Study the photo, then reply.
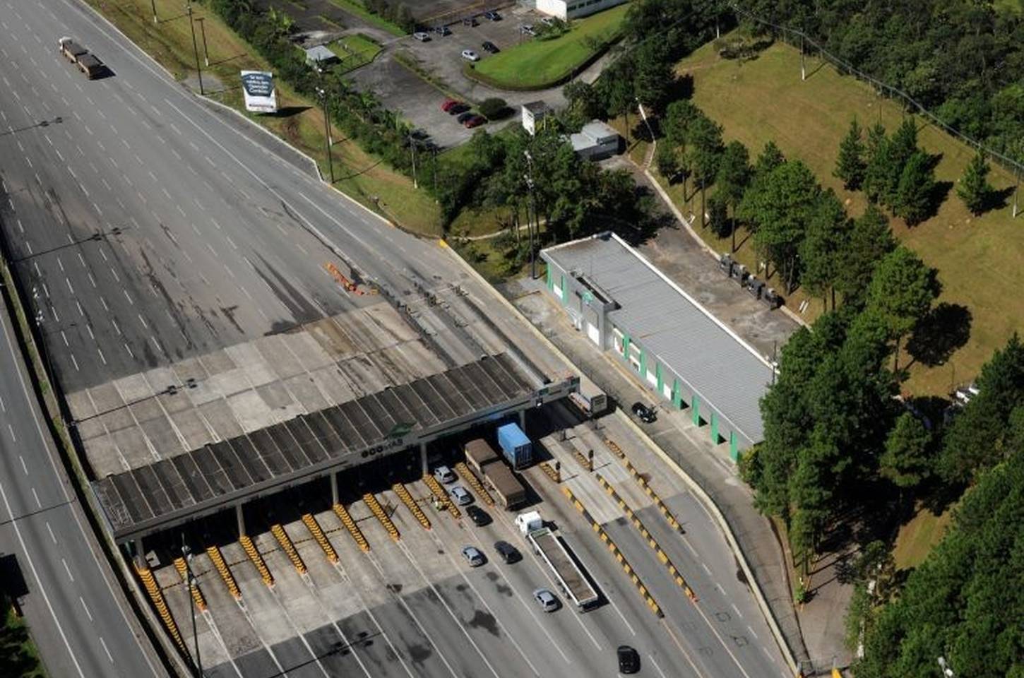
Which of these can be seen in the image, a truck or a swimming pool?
truck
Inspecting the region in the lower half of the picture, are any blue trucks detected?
Yes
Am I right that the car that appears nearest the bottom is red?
No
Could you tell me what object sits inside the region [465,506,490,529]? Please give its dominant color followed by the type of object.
black car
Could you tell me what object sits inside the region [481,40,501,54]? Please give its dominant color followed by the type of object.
black car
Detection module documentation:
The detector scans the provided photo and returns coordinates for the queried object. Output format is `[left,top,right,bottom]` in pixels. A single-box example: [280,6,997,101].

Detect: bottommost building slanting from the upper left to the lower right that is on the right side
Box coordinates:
[545,226,824,476]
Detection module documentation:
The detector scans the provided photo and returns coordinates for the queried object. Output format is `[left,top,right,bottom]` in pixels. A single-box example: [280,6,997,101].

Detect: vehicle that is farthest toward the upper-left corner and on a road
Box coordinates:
[49,40,104,84]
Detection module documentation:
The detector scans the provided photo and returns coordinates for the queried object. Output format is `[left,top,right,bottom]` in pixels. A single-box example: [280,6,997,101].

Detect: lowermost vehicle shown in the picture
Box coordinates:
[617,646,638,675]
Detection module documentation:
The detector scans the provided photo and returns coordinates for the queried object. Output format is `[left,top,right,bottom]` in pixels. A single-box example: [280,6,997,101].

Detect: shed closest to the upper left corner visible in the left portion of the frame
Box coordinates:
[305,45,339,75]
